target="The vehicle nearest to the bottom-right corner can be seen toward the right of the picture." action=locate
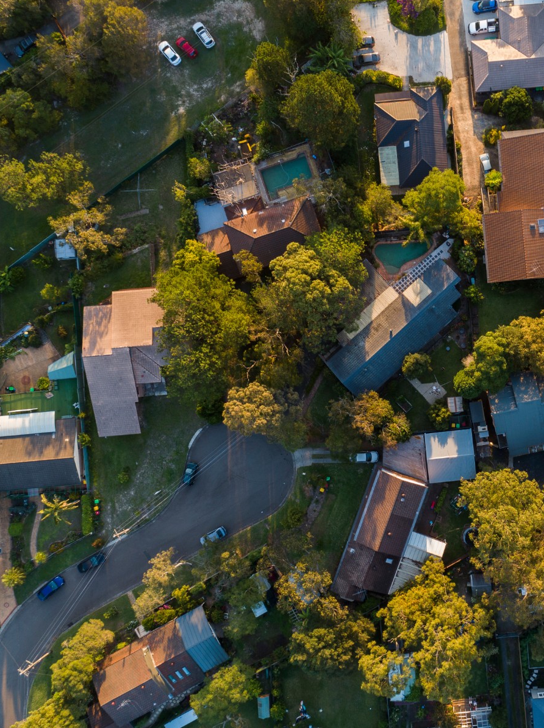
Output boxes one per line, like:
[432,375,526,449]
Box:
[349,451,379,464]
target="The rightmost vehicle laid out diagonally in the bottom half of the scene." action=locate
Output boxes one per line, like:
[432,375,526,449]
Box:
[199,526,226,547]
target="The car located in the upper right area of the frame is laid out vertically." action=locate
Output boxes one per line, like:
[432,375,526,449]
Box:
[479,152,493,177]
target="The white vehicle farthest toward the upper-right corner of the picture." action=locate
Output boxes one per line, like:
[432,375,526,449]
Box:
[467,17,499,33]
